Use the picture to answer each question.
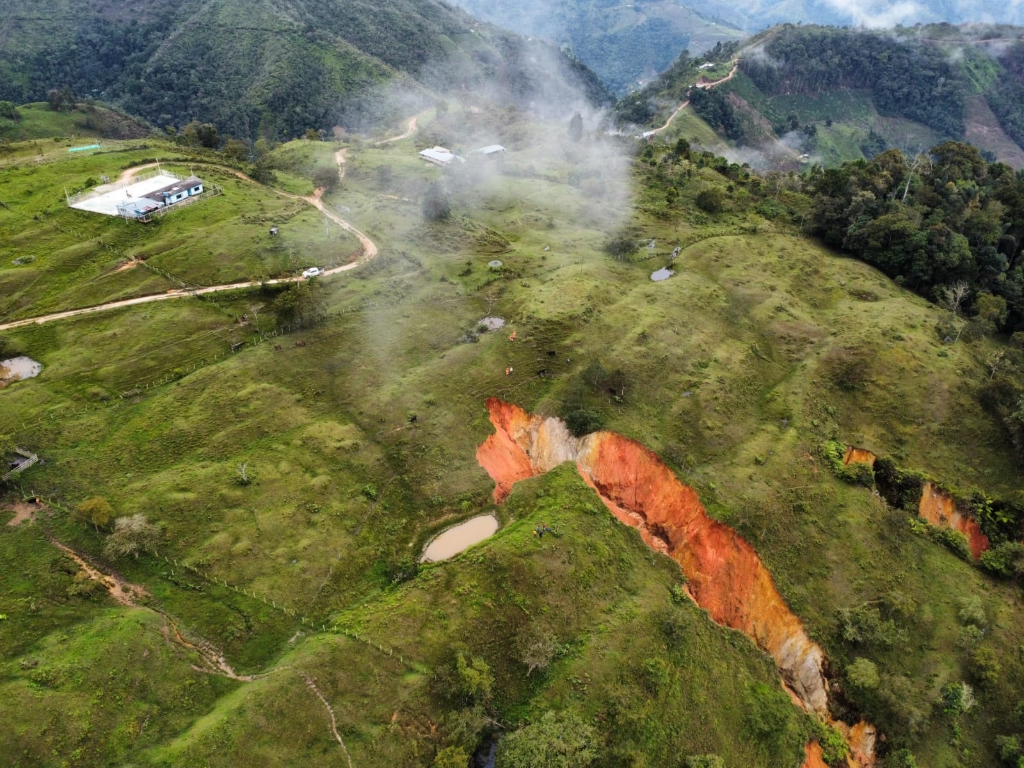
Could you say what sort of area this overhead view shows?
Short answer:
farmland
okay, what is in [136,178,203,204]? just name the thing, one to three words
building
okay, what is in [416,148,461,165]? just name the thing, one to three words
house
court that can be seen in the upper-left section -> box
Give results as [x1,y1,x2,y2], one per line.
[70,174,178,216]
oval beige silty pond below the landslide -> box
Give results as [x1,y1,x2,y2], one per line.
[421,515,498,562]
